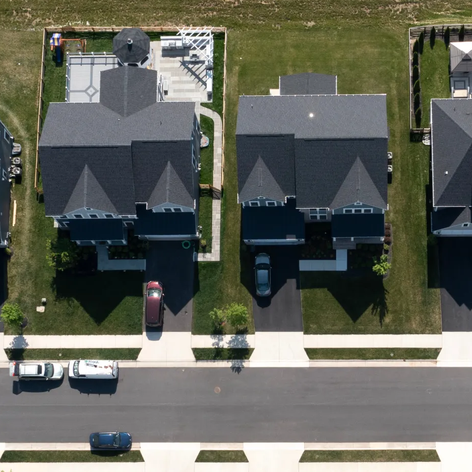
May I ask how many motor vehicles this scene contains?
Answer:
5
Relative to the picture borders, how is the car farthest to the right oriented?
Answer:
from top to bottom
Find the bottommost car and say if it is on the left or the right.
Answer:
left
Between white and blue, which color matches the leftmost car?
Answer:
white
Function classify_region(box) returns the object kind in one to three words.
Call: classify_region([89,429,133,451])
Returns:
car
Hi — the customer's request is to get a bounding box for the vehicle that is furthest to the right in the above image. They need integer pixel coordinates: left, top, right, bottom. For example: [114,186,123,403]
[253,254,273,297]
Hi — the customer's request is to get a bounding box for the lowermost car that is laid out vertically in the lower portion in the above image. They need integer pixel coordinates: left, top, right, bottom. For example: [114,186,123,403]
[143,282,166,328]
